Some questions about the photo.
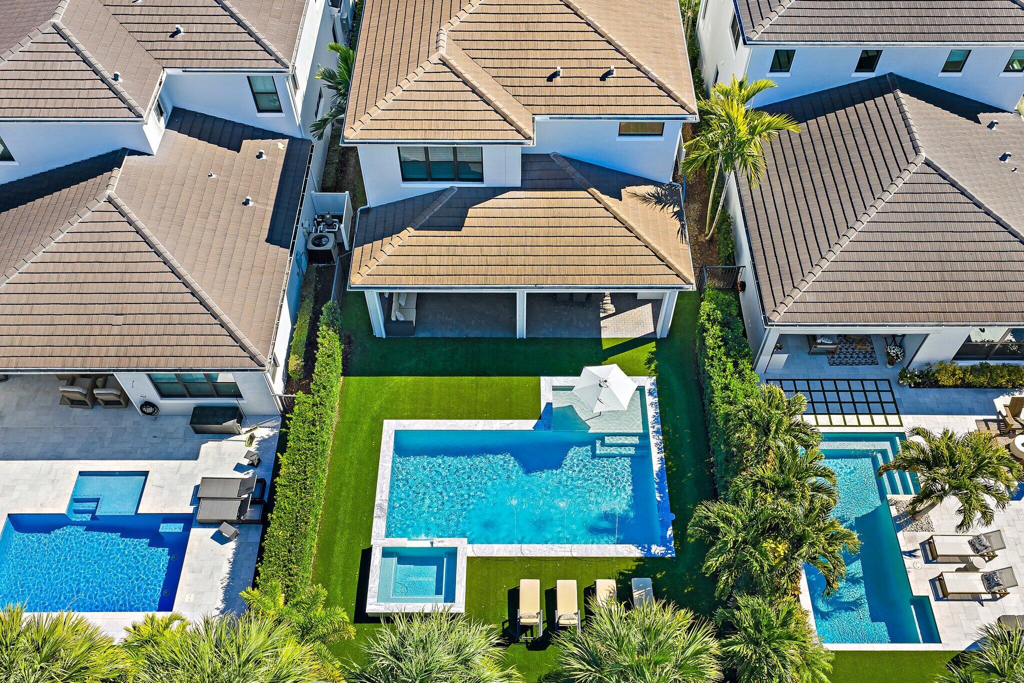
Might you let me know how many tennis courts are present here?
0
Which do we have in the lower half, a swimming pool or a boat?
swimming pool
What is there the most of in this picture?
buildings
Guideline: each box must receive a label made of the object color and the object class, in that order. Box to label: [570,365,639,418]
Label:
white umbrella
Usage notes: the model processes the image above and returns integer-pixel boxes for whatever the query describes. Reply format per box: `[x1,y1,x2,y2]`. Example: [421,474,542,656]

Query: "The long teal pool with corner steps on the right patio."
[797,426,951,652]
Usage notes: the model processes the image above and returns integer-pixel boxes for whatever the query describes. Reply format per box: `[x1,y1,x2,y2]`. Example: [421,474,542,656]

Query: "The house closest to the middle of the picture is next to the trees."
[338,0,702,338]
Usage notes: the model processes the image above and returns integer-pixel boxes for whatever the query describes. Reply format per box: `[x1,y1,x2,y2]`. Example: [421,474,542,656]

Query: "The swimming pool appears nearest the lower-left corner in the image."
[0,463,200,621]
